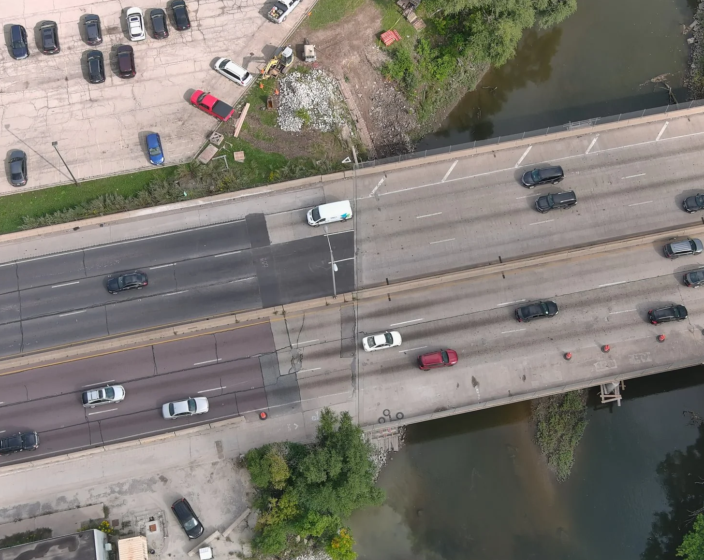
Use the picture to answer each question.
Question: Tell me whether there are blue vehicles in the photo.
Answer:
Yes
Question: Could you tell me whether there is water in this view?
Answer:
Yes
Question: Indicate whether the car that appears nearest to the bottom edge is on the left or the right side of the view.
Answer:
left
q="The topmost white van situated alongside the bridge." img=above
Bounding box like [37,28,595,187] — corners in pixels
[306,196,353,227]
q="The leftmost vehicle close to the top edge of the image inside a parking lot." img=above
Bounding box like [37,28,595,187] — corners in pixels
[7,22,30,60]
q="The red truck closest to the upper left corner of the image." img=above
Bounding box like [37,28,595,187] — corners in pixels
[188,91,236,123]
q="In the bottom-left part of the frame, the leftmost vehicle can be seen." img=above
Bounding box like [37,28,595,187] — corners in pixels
[0,432,40,458]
